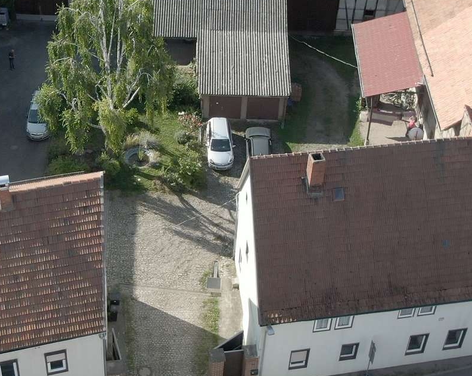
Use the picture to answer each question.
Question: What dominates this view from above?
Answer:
buildings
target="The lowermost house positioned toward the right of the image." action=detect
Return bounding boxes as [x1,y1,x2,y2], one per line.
[234,134,472,376]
